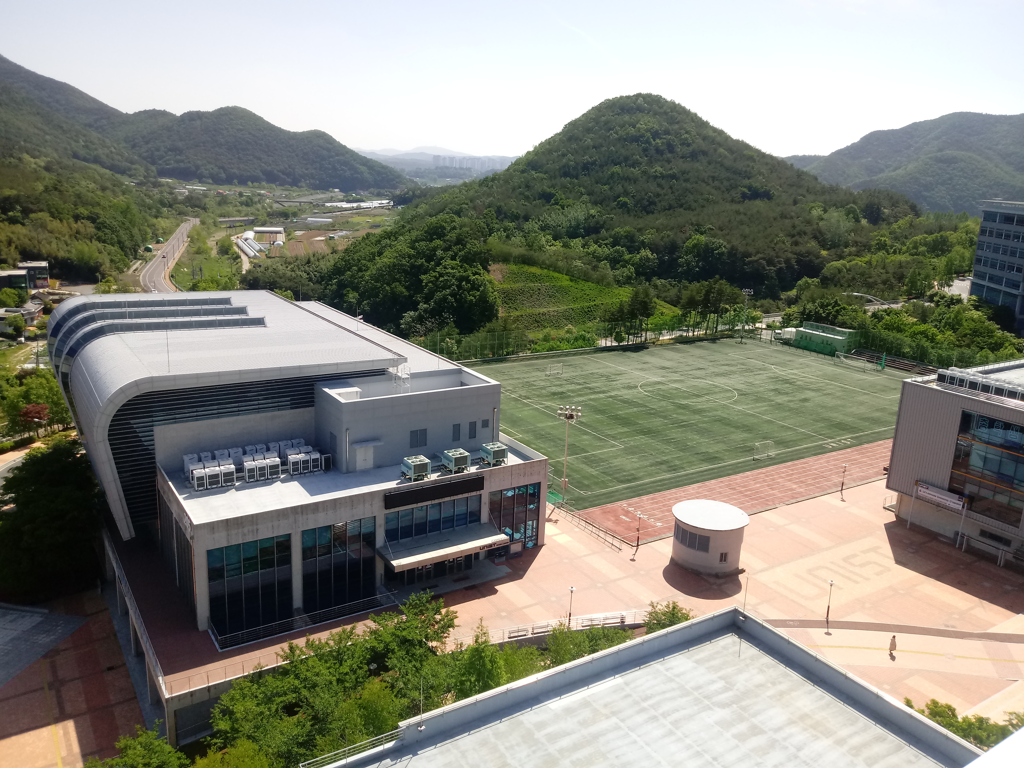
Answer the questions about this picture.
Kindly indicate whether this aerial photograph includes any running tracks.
Yes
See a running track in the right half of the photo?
Yes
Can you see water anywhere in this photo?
No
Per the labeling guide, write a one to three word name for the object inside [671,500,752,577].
building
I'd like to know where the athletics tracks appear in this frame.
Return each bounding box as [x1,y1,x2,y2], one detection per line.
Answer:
[569,436,892,546]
